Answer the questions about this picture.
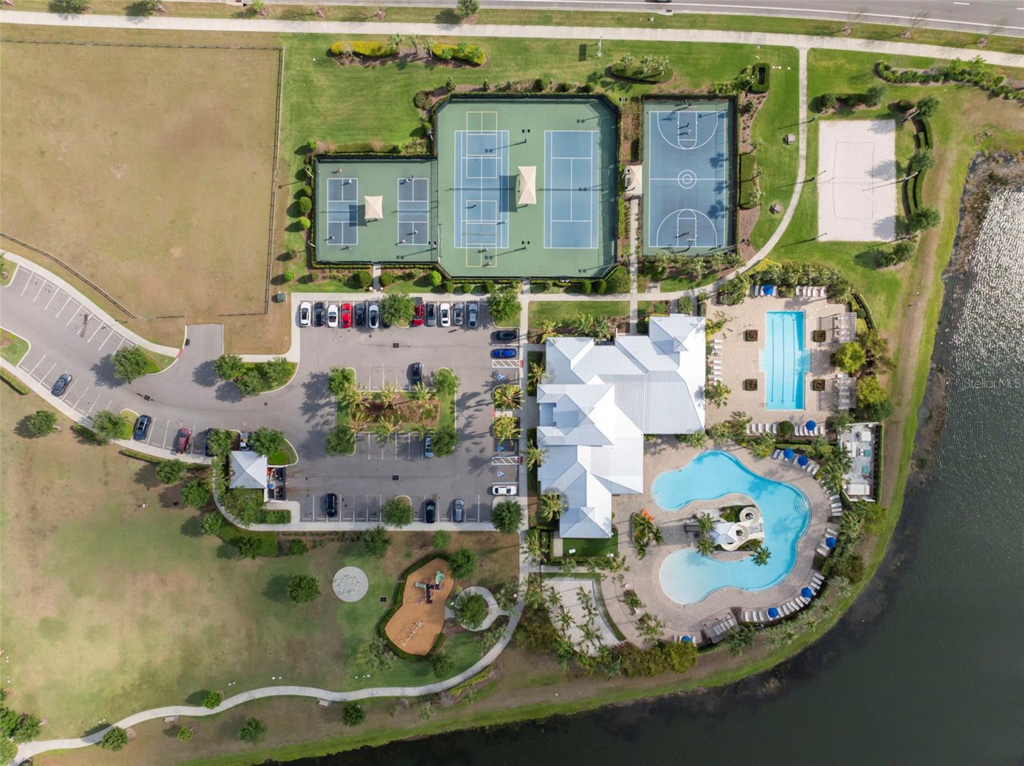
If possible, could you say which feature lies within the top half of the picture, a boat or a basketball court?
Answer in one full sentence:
You can see a basketball court within the top half of the picture.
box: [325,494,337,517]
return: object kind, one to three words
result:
vehicle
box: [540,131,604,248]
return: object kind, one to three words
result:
tennis court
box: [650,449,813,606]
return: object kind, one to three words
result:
swimming pool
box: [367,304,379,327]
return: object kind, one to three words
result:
vehicle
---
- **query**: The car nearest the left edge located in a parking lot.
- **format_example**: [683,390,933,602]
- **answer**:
[52,373,72,396]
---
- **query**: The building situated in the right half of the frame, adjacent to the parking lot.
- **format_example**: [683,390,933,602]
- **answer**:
[537,316,706,538]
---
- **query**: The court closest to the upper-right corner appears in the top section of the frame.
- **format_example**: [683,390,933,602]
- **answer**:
[818,119,896,242]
